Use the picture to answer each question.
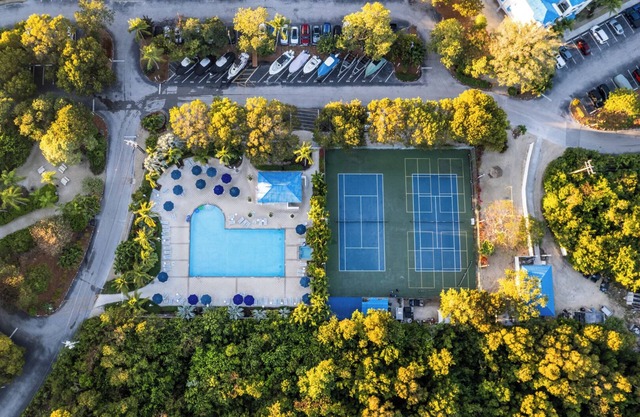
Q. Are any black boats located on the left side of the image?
Yes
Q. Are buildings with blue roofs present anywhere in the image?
Yes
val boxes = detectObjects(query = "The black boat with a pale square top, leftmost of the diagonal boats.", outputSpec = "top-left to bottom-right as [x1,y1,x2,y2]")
[176,50,204,74]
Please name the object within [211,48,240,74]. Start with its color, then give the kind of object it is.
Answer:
black boat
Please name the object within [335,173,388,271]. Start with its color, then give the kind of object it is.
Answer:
blue tennis court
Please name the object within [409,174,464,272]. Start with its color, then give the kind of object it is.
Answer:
blue tennis court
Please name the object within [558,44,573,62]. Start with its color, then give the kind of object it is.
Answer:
blue car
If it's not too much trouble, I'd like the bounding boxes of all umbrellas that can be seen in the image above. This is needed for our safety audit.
[231,293,244,306]
[201,293,212,305]
[191,165,203,177]
[163,201,174,212]
[171,169,182,180]
[172,184,184,196]
[152,292,164,304]
[206,168,217,178]
[299,292,311,304]
[213,184,224,195]
[187,293,199,305]
[299,276,311,288]
[229,186,241,198]
[195,178,206,189]
[295,224,306,235]
[243,294,256,306]
[157,271,169,283]
[221,173,232,185]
